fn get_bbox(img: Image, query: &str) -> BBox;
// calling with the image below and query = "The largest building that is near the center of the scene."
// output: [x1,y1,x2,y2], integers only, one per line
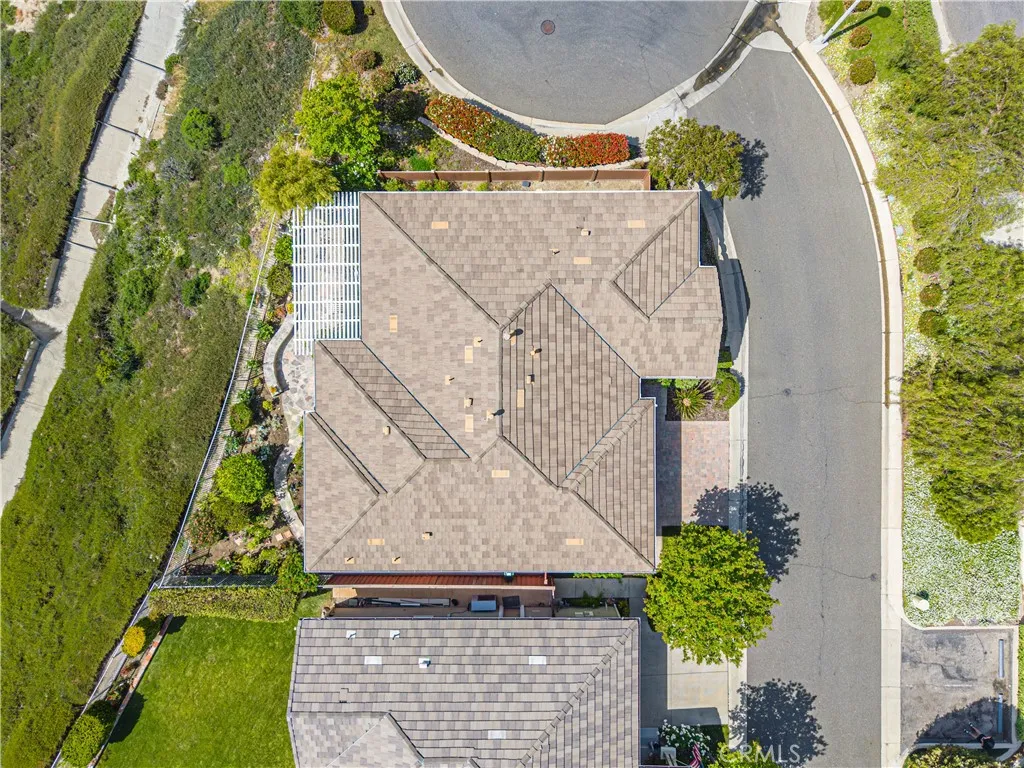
[303,191,722,574]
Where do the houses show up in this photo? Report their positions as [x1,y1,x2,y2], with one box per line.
[286,603,702,768]
[303,191,722,574]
